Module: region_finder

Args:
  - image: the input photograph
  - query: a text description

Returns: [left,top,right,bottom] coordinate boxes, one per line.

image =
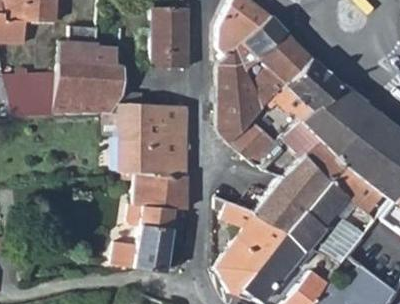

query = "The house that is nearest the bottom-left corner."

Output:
[108,242,135,270]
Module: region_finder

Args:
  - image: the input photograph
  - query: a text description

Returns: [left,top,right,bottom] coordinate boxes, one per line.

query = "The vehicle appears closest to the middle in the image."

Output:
[216,182,240,198]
